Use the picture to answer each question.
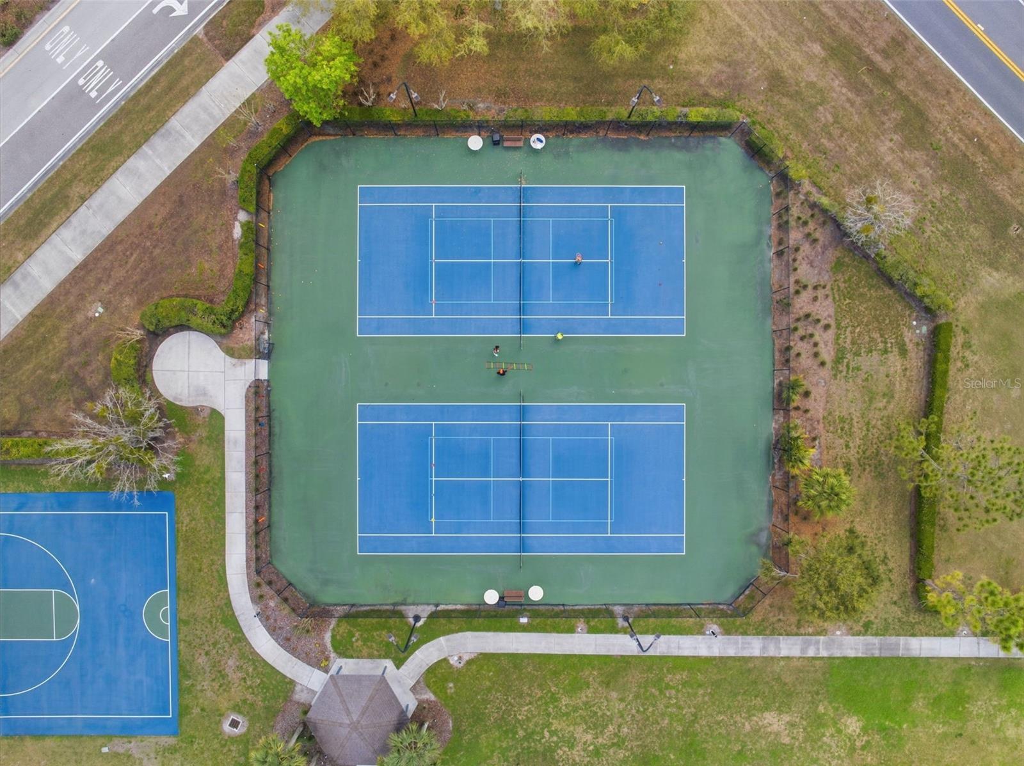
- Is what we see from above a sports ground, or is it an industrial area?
sports ground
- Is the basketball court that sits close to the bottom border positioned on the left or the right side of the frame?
left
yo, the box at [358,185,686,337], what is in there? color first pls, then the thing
blue tennis court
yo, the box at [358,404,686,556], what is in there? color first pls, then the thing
blue tennis court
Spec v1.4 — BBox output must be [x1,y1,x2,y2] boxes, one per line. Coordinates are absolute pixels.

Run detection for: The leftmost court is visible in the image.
[0,492,178,738]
